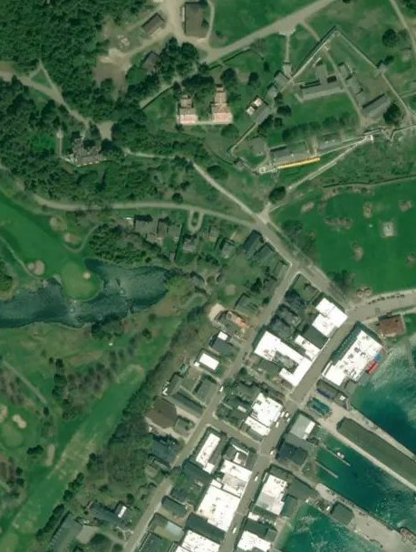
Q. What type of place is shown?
residential area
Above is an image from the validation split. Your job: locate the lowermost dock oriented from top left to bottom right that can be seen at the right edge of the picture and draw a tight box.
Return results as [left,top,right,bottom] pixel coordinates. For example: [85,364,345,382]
[311,483,415,552]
